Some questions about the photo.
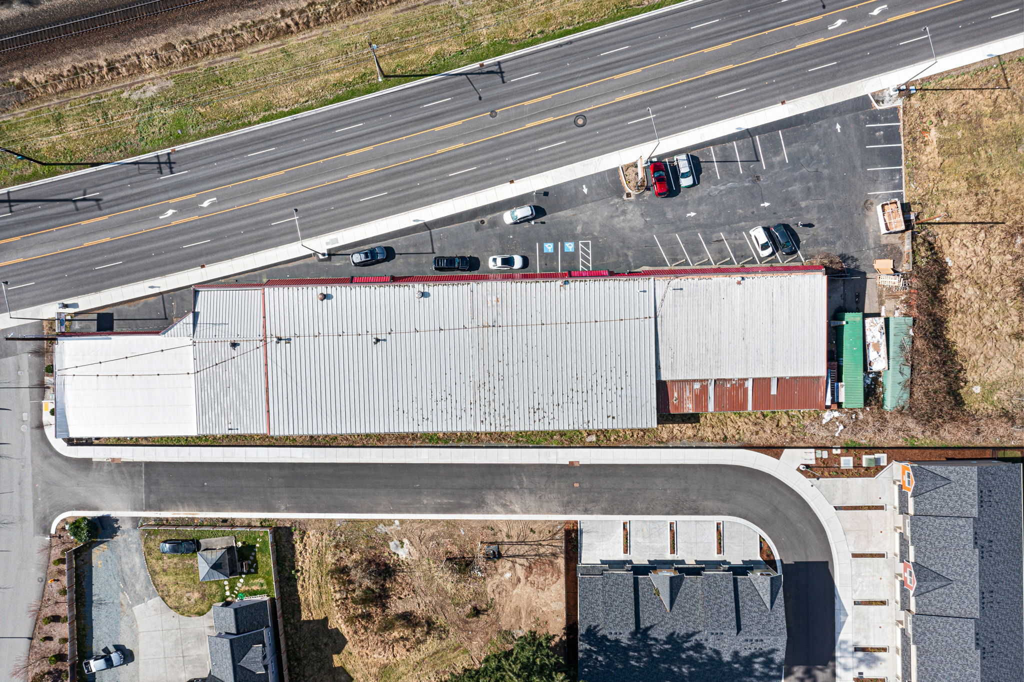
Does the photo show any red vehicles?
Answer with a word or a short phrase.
Yes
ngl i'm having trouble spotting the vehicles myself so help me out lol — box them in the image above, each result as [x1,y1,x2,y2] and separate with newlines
[349,245,384,265]
[432,255,468,271]
[772,222,796,255]
[674,152,694,189]
[489,255,522,269]
[503,204,535,223]
[649,162,669,197]
[80,650,123,676]
[750,225,773,258]
[160,540,195,556]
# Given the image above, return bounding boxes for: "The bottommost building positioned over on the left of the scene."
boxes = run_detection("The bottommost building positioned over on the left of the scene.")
[207,591,282,682]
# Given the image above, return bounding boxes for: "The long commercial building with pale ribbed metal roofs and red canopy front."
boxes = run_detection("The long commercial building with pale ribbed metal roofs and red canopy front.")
[54,262,828,439]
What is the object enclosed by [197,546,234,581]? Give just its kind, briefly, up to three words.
building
